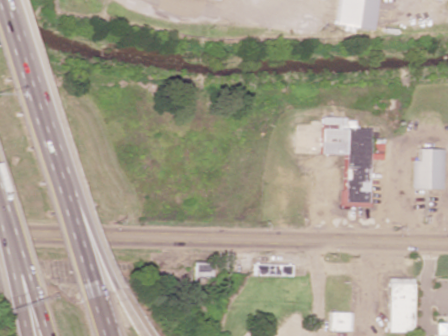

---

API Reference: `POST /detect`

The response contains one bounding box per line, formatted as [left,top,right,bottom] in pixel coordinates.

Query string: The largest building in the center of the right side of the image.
[321,118,386,206]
